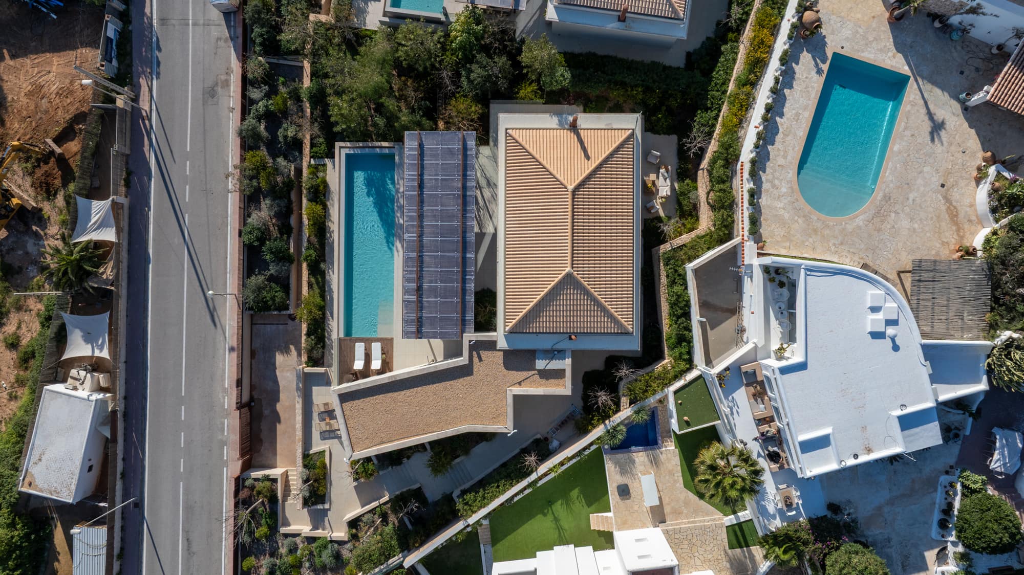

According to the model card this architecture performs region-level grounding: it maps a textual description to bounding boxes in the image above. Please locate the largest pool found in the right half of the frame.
[792,46,916,218]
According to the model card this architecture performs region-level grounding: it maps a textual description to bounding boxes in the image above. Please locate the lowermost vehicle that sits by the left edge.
[0,137,69,244]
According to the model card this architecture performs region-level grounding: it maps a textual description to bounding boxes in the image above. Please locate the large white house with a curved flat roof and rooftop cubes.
[761,267,993,479]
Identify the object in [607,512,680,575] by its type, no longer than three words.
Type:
house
